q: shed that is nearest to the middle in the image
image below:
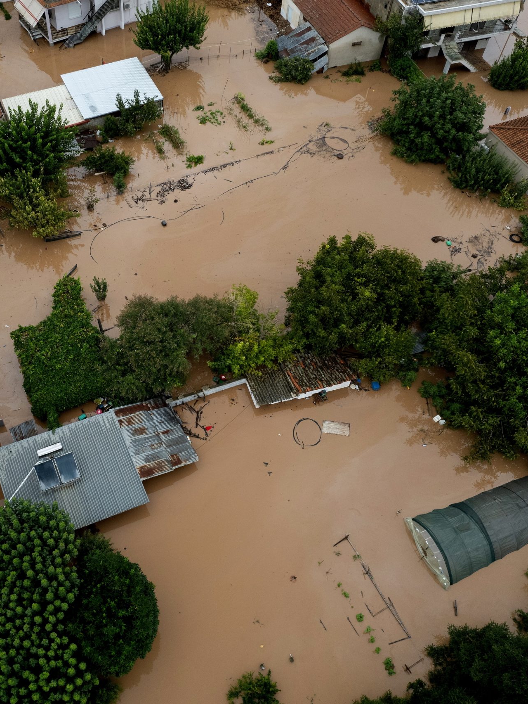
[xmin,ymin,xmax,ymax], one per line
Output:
[244,350,354,410]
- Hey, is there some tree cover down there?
Yes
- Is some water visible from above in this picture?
Yes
